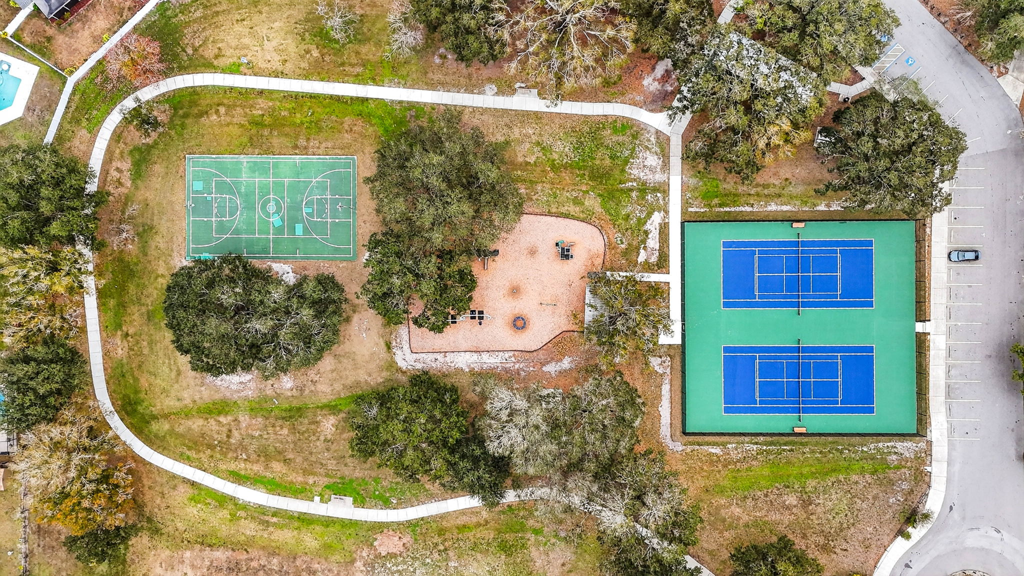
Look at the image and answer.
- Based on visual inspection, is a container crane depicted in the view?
No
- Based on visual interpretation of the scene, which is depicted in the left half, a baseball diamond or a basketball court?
basketball court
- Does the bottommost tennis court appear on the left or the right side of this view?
right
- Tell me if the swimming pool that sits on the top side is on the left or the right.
left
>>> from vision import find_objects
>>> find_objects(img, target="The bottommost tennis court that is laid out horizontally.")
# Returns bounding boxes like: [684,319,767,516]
[685,327,918,434]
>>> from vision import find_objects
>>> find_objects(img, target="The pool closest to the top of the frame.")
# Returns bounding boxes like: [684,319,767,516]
[0,53,40,125]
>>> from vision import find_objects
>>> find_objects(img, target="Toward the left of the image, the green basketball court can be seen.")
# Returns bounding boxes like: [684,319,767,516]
[186,155,357,261]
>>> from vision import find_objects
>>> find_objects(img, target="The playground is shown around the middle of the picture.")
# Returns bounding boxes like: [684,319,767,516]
[407,214,606,353]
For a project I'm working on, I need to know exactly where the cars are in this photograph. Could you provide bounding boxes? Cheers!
[949,249,980,263]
